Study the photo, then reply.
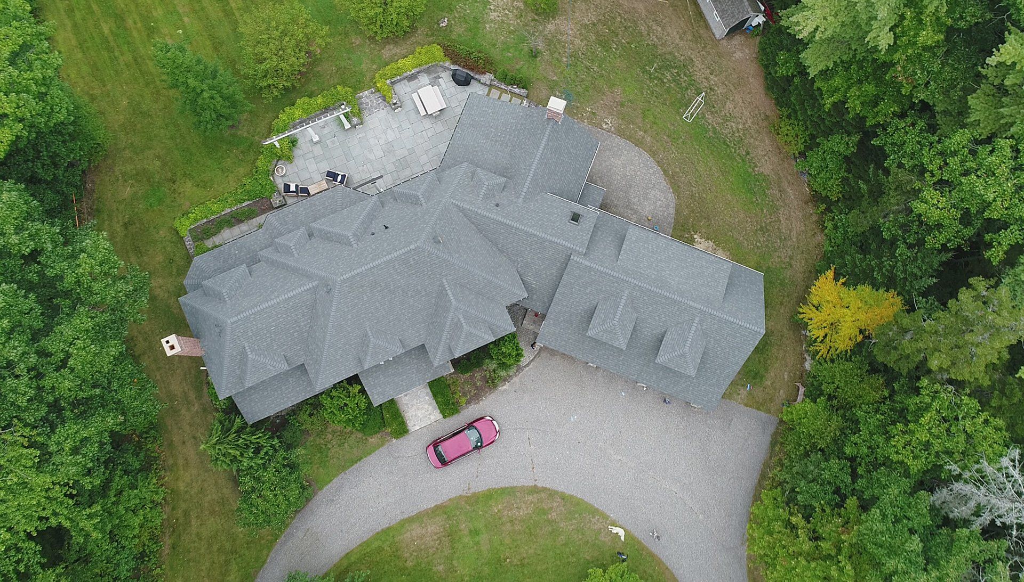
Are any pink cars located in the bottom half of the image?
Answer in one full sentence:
Yes, a pink car appears in the bottom half of the image.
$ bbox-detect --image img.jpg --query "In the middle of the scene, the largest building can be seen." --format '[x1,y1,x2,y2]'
[161,93,765,424]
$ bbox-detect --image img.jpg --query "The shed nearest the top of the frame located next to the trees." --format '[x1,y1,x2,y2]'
[686,0,765,46]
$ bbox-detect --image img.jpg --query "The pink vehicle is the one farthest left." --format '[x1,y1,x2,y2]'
[425,419,501,468]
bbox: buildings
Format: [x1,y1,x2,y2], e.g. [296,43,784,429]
[161,93,765,424]
[686,0,765,46]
